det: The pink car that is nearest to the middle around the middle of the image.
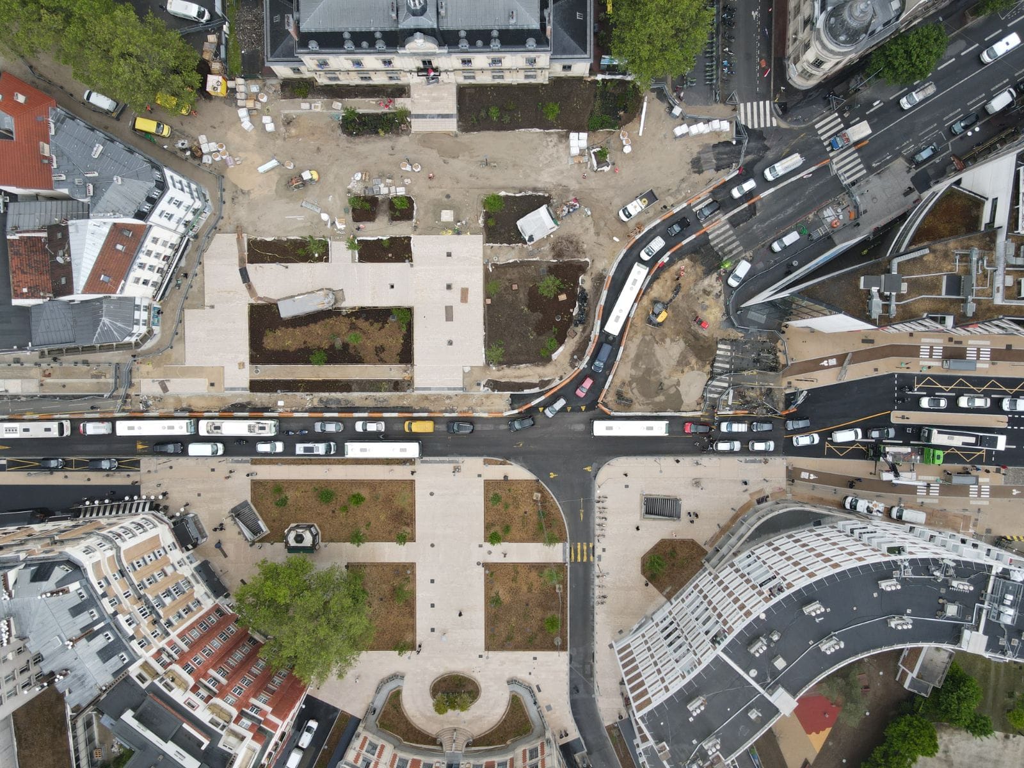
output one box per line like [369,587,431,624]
[574,374,596,398]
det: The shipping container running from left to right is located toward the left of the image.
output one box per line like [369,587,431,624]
[278,289,338,320]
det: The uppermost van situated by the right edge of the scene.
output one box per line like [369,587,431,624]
[980,29,1024,62]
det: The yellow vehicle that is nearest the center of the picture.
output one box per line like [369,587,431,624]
[404,419,435,435]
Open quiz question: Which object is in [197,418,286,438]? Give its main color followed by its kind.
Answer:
white bus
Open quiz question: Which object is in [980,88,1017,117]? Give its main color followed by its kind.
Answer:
white van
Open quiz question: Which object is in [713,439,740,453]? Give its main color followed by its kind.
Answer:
white car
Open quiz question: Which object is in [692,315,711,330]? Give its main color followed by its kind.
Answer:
red vehicle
